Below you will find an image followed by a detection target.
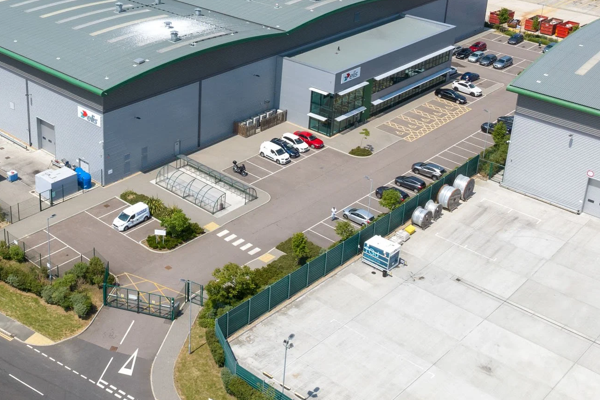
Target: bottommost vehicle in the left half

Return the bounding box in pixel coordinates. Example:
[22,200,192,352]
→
[113,199,149,230]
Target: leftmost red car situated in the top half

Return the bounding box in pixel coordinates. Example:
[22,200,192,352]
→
[294,131,325,150]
